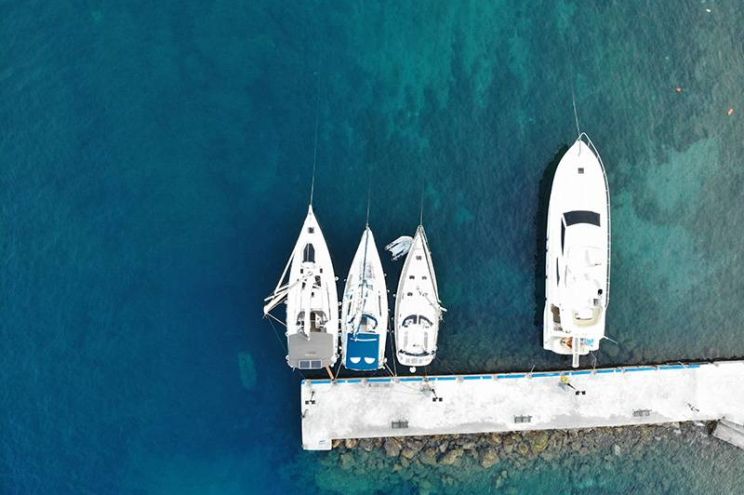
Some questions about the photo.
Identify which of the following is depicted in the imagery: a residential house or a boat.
boat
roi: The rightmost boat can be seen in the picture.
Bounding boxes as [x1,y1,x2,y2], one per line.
[543,89,617,374]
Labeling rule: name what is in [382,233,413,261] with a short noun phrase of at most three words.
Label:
boat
